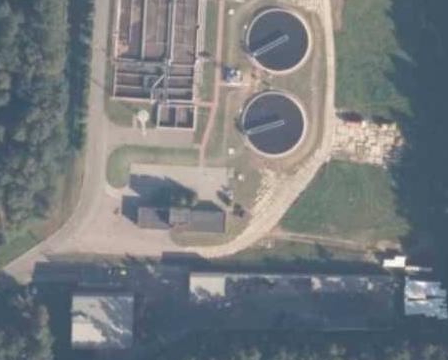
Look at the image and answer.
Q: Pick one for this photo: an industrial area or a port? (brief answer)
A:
industrial area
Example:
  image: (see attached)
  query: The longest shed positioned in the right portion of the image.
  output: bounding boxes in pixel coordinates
[190,272,403,328]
